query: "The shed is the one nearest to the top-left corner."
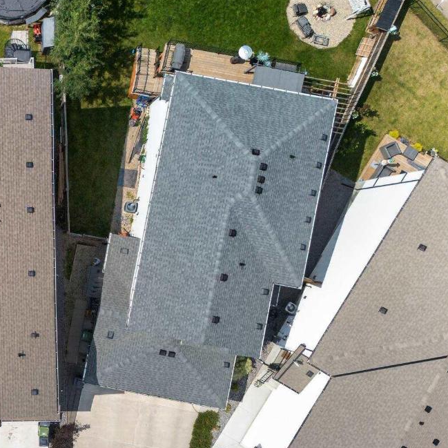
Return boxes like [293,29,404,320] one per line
[42,16,55,54]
